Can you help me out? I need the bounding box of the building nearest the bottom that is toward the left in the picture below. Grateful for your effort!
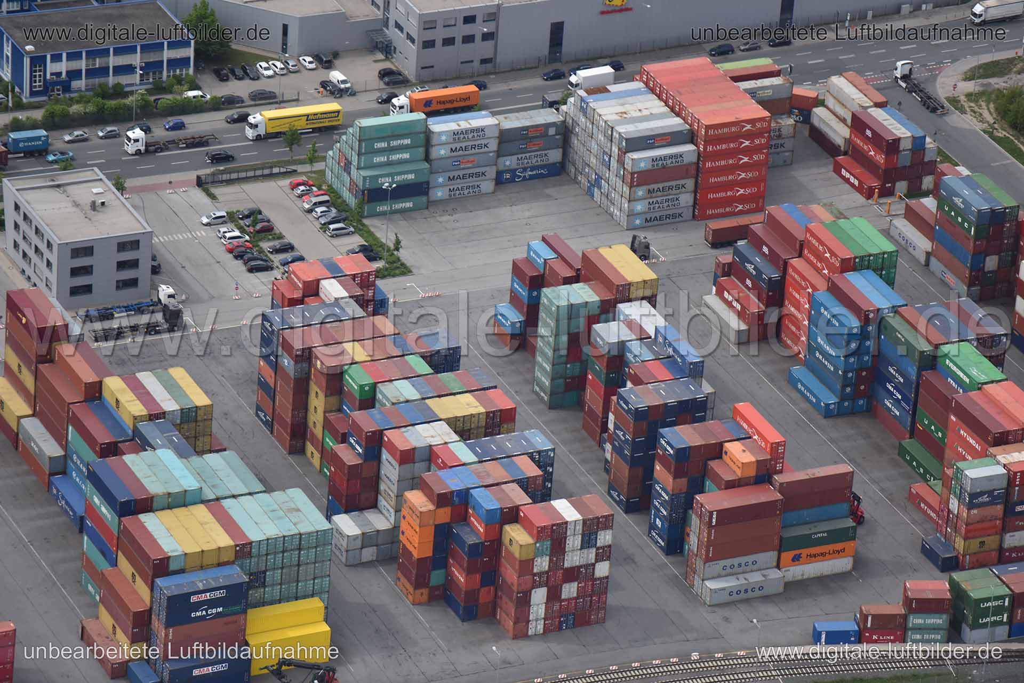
[4,167,153,312]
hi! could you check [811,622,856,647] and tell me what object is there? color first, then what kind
blue shipping container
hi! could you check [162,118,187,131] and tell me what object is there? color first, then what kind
blue vehicle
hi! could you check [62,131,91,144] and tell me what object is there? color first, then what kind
gray vehicle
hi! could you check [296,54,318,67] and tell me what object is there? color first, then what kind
white vehicle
